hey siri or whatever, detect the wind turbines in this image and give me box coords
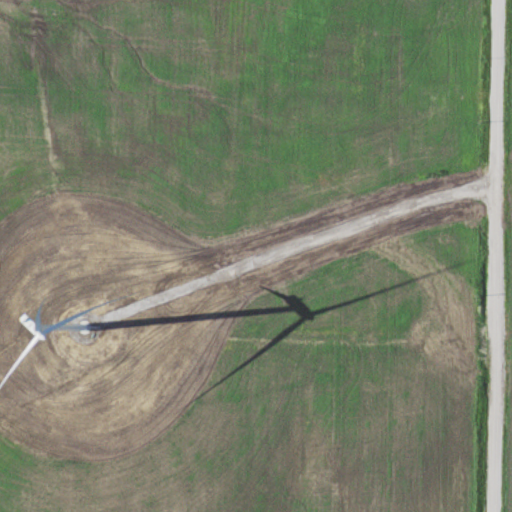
[0,300,132,388]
